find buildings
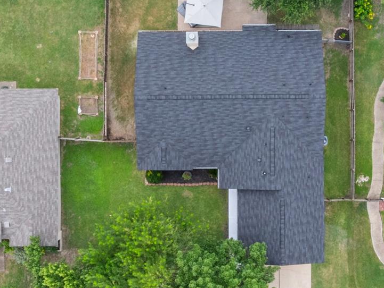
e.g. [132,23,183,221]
[135,24,325,266]
[0,88,62,256]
